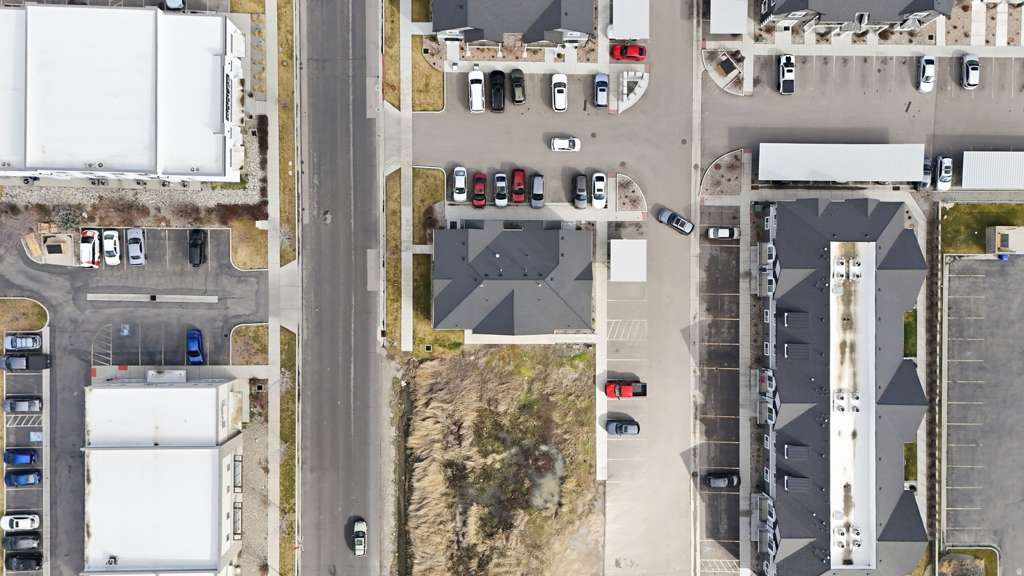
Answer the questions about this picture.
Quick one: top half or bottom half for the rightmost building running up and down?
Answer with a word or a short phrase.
bottom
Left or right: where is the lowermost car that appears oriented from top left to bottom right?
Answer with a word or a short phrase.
right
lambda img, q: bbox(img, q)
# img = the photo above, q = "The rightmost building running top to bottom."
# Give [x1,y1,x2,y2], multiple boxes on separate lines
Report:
[756,197,928,576]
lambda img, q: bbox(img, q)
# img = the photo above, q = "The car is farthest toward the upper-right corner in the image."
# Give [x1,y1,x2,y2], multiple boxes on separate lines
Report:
[959,54,981,90]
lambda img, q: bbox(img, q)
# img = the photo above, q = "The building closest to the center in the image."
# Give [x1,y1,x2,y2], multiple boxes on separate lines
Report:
[432,219,594,337]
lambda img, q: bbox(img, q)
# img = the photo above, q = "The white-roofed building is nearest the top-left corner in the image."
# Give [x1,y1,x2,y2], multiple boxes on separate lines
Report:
[0,5,245,183]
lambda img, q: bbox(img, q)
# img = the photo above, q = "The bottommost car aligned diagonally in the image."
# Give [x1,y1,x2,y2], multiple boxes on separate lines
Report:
[657,207,695,237]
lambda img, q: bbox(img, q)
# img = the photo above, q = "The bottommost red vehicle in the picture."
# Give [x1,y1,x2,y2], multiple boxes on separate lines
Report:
[604,381,648,400]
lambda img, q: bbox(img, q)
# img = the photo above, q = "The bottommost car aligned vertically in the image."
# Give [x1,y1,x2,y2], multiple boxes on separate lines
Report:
[351,519,368,557]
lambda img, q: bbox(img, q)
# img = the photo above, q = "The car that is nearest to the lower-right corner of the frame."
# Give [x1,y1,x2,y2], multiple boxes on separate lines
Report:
[705,472,740,490]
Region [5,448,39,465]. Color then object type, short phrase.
blue car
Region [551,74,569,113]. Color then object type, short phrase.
white car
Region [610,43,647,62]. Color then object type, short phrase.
red car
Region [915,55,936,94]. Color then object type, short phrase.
white car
